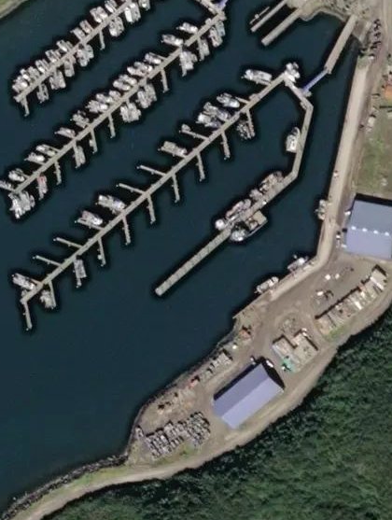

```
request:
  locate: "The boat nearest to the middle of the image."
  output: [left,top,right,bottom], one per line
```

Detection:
[216,218,229,230]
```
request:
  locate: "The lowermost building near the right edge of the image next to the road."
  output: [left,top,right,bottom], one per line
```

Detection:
[345,199,392,258]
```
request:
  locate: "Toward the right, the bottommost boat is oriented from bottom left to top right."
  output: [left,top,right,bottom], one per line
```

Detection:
[256,277,278,294]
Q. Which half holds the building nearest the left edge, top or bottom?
bottom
